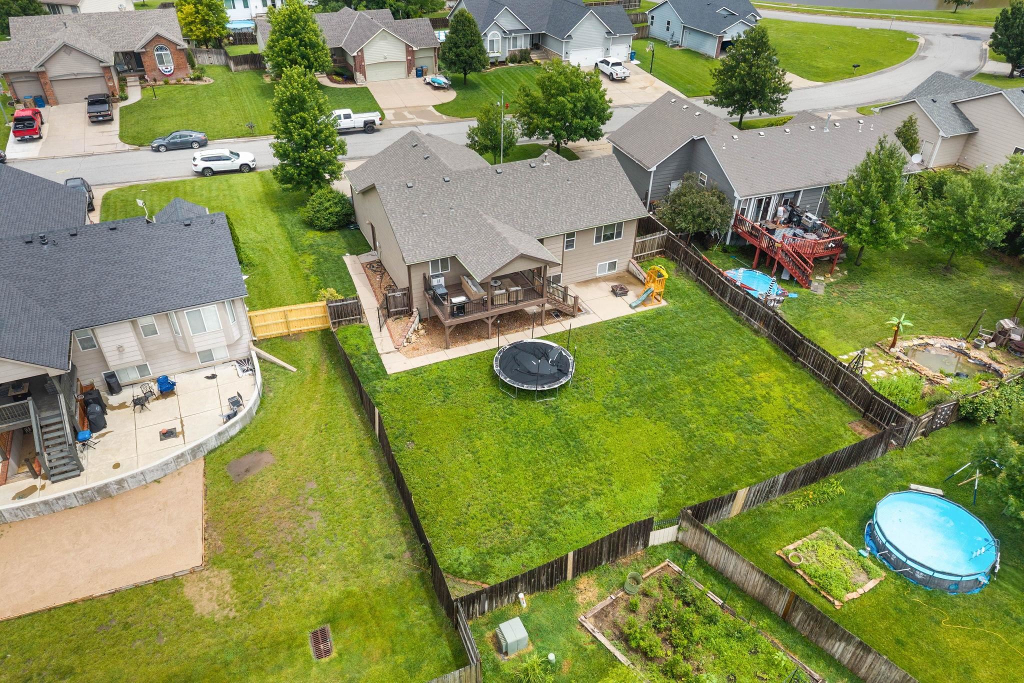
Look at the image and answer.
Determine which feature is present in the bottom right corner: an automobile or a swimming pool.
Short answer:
swimming pool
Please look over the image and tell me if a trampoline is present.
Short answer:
Yes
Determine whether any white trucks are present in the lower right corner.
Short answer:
No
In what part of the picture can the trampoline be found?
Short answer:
center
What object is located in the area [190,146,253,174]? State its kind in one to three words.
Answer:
car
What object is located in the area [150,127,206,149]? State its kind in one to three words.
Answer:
car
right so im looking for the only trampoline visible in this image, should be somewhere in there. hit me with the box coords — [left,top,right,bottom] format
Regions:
[494,322,575,400]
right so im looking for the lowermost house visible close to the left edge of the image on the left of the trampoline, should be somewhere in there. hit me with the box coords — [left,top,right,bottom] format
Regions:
[0,164,255,390]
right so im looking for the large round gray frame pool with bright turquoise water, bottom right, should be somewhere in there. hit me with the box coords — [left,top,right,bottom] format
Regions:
[868,491,998,596]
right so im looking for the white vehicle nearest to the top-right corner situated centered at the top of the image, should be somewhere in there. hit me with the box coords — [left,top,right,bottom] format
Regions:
[602,58,630,79]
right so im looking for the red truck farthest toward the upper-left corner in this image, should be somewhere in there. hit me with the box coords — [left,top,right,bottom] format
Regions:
[9,109,38,137]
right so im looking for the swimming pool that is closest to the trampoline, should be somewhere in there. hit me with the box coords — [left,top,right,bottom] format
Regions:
[729,271,792,308]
